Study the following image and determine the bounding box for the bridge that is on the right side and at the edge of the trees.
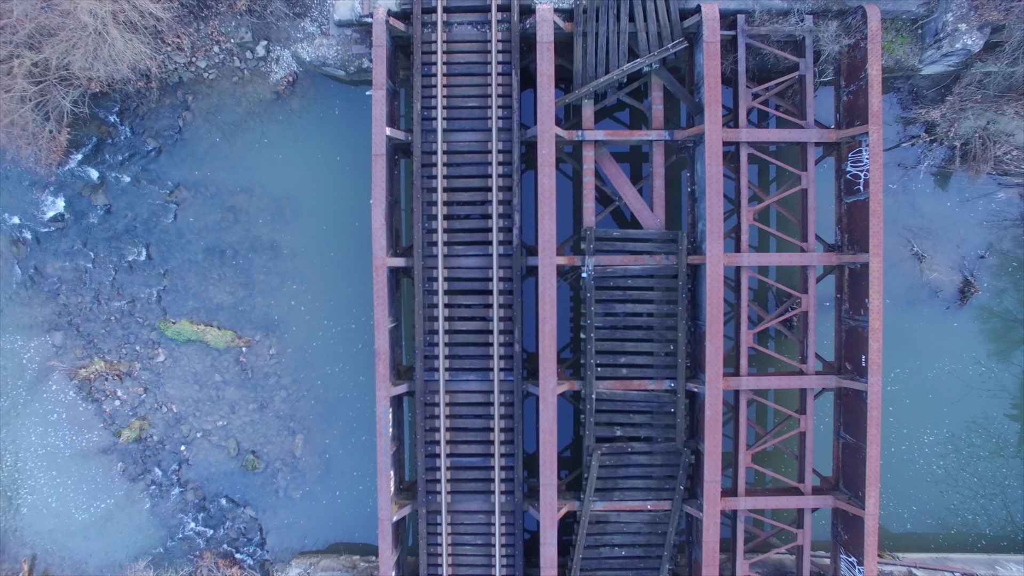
[368,7,886,576]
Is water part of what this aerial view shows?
Yes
